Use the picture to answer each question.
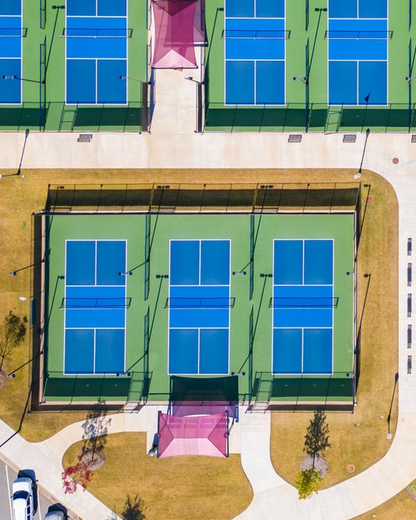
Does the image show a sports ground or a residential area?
sports ground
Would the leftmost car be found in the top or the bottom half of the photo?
bottom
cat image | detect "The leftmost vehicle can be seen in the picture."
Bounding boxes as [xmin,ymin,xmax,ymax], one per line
[9,476,36,520]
